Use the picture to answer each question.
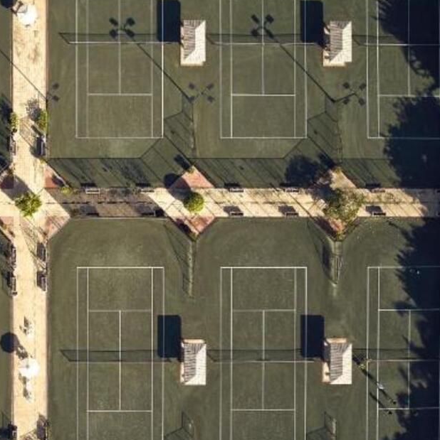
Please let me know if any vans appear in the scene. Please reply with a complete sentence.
No, no van is visible in the scene.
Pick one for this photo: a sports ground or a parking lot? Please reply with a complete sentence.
This looks like a sports ground.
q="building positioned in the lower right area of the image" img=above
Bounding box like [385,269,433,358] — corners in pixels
[324,339,353,386]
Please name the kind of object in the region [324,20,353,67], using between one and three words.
building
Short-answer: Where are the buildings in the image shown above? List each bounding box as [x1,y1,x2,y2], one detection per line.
[324,339,353,386]
[324,20,353,67]
[180,20,206,65]
[180,340,206,386]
